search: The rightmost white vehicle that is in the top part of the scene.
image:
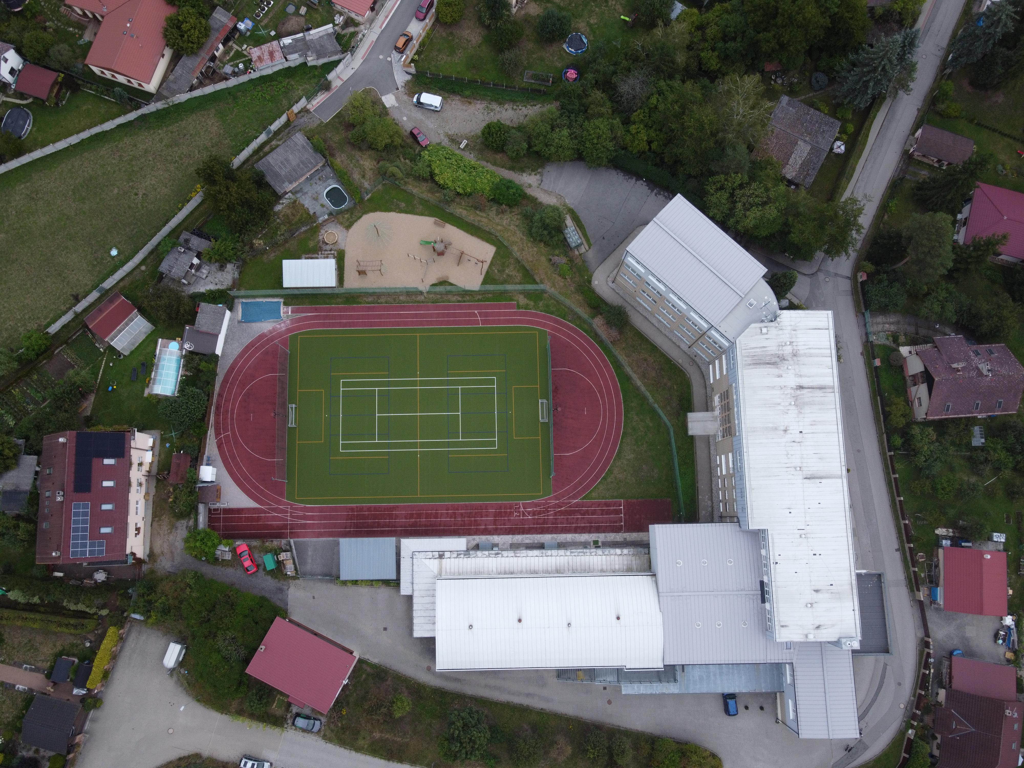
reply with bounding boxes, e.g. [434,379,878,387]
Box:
[412,92,444,112]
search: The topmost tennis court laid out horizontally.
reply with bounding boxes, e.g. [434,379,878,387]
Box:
[340,377,497,452]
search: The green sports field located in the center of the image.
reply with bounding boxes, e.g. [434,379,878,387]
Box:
[285,326,552,505]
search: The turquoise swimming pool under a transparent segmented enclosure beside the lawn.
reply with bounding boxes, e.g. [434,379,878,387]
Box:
[149,339,183,395]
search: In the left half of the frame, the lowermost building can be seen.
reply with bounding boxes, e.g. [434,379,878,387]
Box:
[22,693,85,755]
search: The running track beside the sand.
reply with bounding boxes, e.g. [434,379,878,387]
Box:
[208,302,672,539]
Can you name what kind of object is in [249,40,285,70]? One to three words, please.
shed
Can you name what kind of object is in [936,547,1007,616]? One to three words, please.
building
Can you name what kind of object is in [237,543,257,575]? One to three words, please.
car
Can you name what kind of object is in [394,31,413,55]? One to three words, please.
car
